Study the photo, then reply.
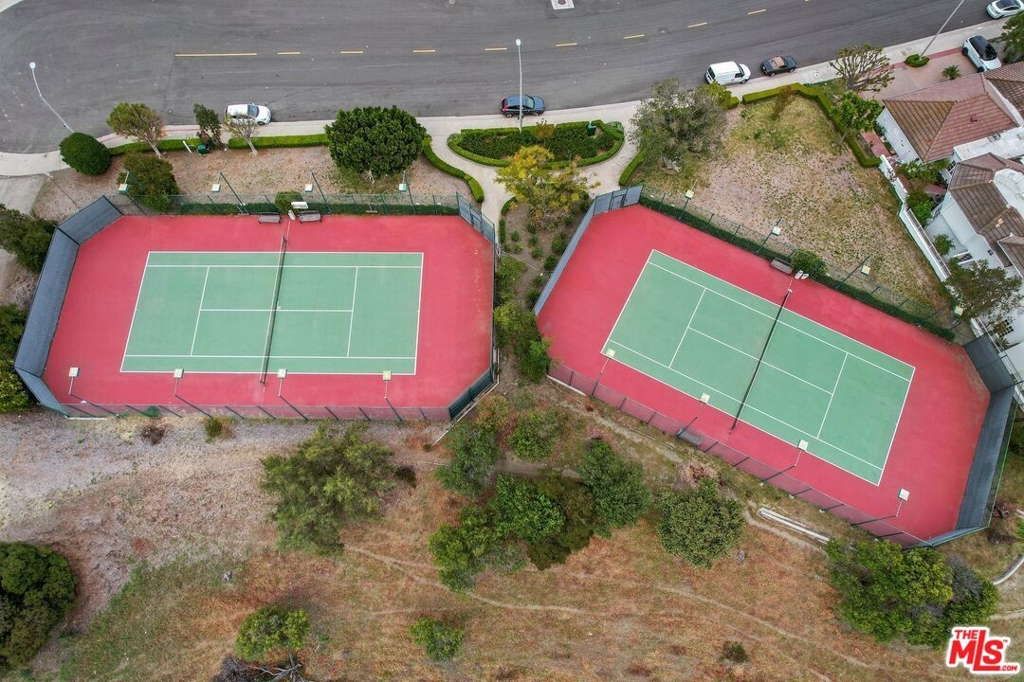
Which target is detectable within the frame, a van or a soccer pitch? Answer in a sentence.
Of the two, only a van appears.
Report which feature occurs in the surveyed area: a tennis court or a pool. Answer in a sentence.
The one in the frame is a tennis court.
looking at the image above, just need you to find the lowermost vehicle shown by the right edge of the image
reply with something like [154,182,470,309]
[961,29,1006,71]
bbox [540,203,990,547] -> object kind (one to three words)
tennis court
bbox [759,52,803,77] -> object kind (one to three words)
car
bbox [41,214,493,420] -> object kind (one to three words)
tennis court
